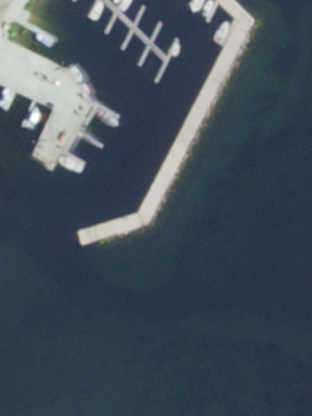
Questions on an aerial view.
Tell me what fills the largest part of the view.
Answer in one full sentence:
For the most part, this view shows water.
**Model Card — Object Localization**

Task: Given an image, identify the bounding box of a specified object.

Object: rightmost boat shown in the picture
[214,22,228,46]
